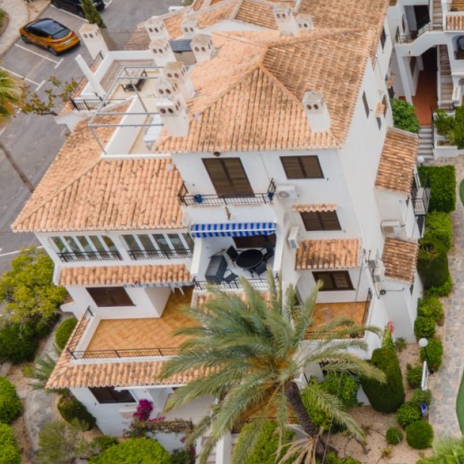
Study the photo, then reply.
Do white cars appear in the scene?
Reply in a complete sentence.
No, no white car is visible in the view.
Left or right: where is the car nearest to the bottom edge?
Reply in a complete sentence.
You can find the car nearest to the bottom edge on the left side of the picture.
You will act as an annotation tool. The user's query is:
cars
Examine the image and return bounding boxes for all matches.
[24,24,71,57]
[51,0,91,19]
